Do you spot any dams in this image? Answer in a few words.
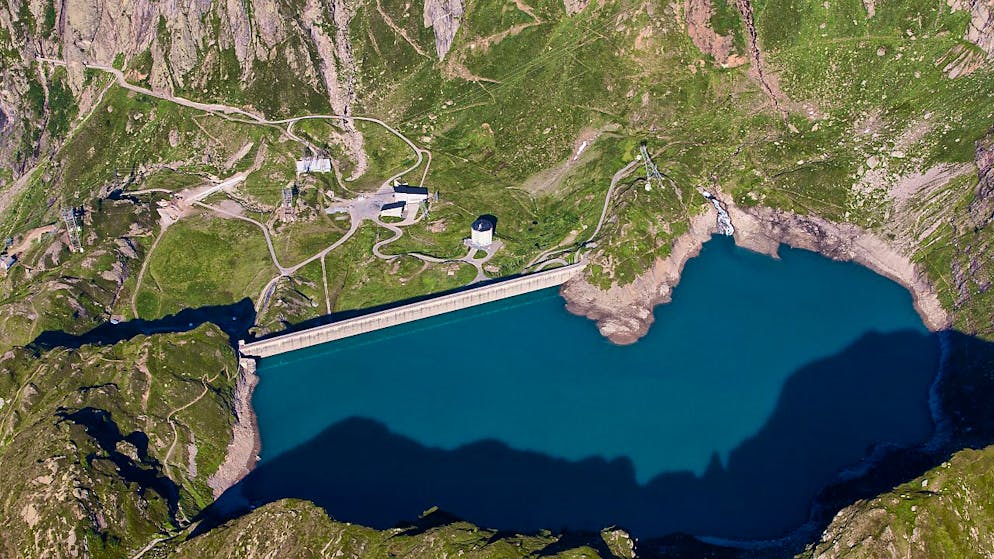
Yes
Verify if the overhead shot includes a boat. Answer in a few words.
No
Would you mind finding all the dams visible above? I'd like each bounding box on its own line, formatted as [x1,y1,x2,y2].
[246,258,572,357]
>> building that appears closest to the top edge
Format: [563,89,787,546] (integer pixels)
[297,159,331,174]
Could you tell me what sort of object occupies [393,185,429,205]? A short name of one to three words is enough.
building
